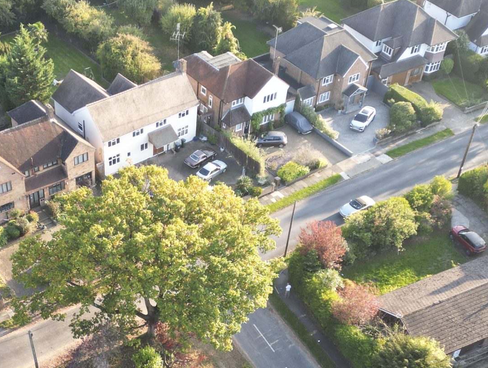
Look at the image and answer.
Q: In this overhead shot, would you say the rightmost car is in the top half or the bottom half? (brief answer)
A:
bottom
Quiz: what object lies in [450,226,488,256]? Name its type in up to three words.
car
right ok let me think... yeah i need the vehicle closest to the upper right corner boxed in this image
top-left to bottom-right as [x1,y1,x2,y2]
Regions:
[346,102,380,131]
